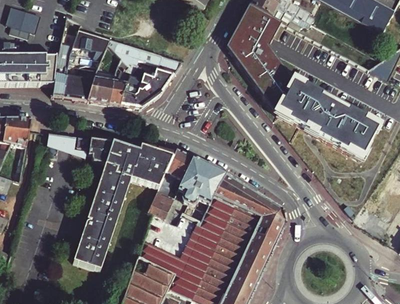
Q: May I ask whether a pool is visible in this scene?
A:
No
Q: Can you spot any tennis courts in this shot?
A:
No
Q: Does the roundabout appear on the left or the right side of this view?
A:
right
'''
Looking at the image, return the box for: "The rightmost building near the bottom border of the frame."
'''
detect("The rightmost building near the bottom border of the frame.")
[218,212,285,304]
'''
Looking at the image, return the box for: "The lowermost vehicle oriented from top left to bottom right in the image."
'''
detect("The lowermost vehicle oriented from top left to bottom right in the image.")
[358,283,384,304]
